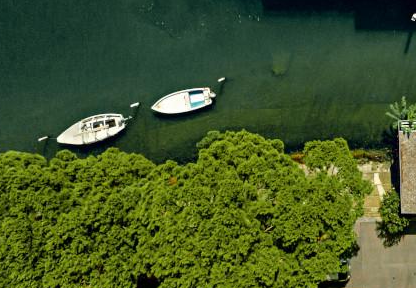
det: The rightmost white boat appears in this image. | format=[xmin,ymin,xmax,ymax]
[149,86,216,114]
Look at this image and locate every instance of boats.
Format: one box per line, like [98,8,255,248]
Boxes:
[55,115,131,145]
[149,86,216,114]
